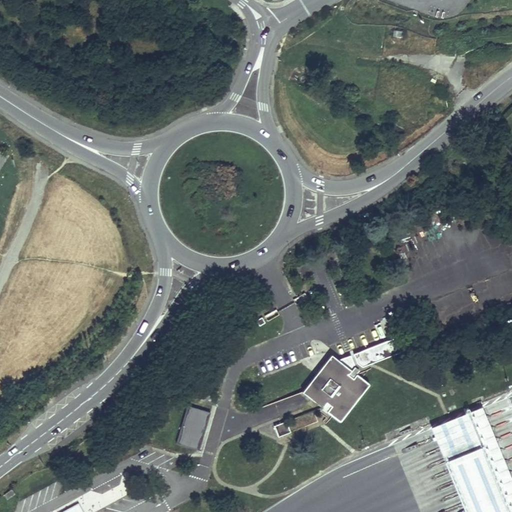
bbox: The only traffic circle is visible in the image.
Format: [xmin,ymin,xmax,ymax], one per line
[106,70,354,304]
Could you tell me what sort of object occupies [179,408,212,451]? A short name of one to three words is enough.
building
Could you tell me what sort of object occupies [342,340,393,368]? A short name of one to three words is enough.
building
